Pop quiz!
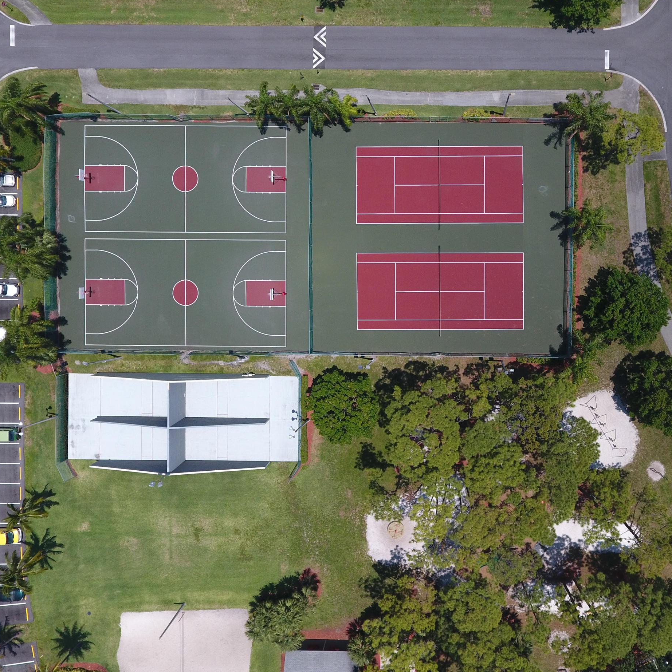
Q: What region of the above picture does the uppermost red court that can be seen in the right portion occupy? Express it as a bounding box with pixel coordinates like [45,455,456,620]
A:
[356,146,524,224]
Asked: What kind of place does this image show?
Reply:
sports ground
